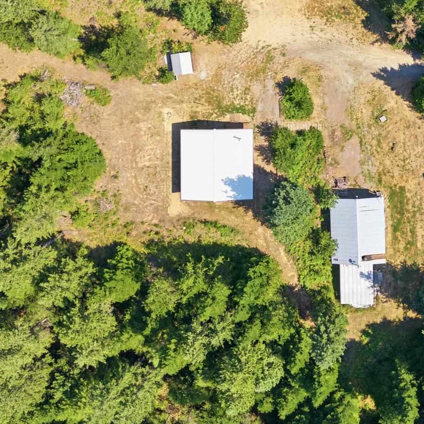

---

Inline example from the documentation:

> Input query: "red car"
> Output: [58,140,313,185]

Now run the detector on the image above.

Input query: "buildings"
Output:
[171,52,196,75]
[330,196,386,268]
[181,129,255,201]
